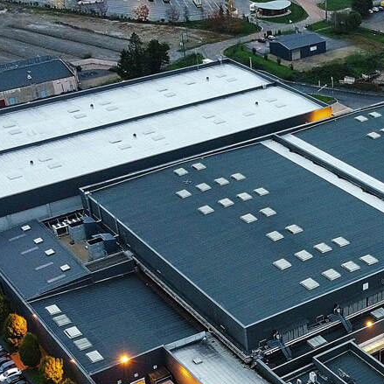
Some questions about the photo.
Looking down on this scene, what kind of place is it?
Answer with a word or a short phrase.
industrial area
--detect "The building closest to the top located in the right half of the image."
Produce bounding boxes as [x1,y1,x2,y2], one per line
[248,2,295,20]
